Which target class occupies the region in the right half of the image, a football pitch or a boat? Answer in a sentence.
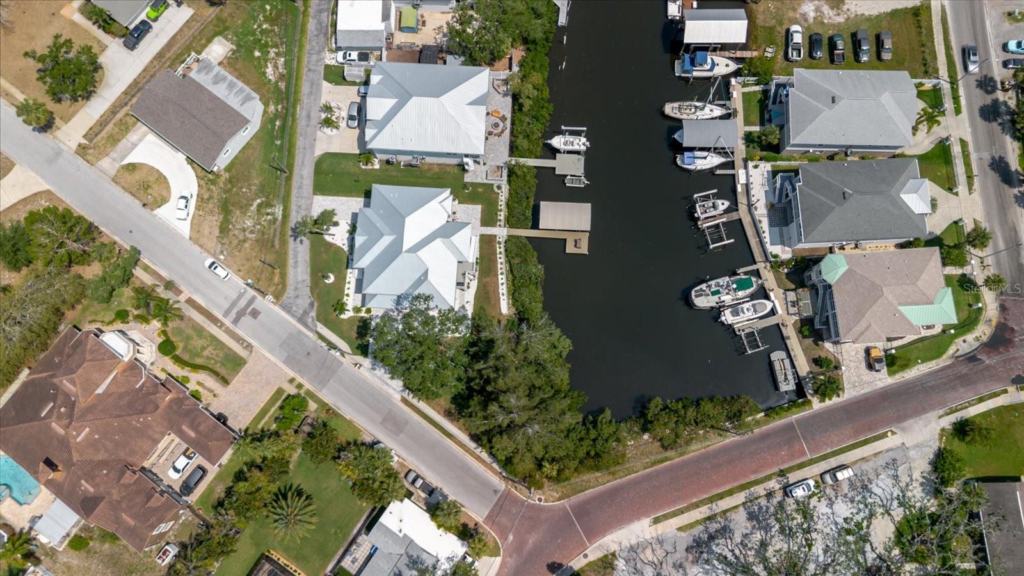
Looking in the right half of the image, you will find a boat.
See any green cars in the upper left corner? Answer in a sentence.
Yes, there is a green car in the upper left corner.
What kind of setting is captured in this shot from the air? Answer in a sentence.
It's a residential area.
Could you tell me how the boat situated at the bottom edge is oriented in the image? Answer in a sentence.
Seen from above, the boat situated at the bottom edge lies diagonally.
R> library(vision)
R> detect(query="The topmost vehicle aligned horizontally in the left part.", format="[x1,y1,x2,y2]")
[337,50,371,65]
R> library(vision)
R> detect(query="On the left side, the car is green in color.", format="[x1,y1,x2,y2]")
[146,0,170,22]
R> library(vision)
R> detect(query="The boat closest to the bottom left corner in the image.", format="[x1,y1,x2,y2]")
[153,543,180,566]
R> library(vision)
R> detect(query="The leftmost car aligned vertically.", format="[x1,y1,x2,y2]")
[177,192,192,220]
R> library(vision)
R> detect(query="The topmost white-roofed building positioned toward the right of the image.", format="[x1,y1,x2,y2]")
[677,9,748,57]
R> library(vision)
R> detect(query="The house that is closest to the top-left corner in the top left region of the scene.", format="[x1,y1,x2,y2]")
[93,0,153,29]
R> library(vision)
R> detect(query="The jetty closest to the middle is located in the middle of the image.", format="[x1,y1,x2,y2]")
[481,227,590,257]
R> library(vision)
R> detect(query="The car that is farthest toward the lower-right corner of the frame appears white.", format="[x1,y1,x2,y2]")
[820,465,854,483]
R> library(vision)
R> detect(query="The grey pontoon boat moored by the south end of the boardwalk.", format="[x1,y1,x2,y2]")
[768,351,795,396]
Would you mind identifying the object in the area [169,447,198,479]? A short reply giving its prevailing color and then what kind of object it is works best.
white truck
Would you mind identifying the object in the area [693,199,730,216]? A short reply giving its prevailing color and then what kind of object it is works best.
white boat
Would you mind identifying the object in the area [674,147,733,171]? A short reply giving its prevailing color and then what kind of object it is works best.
white boat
